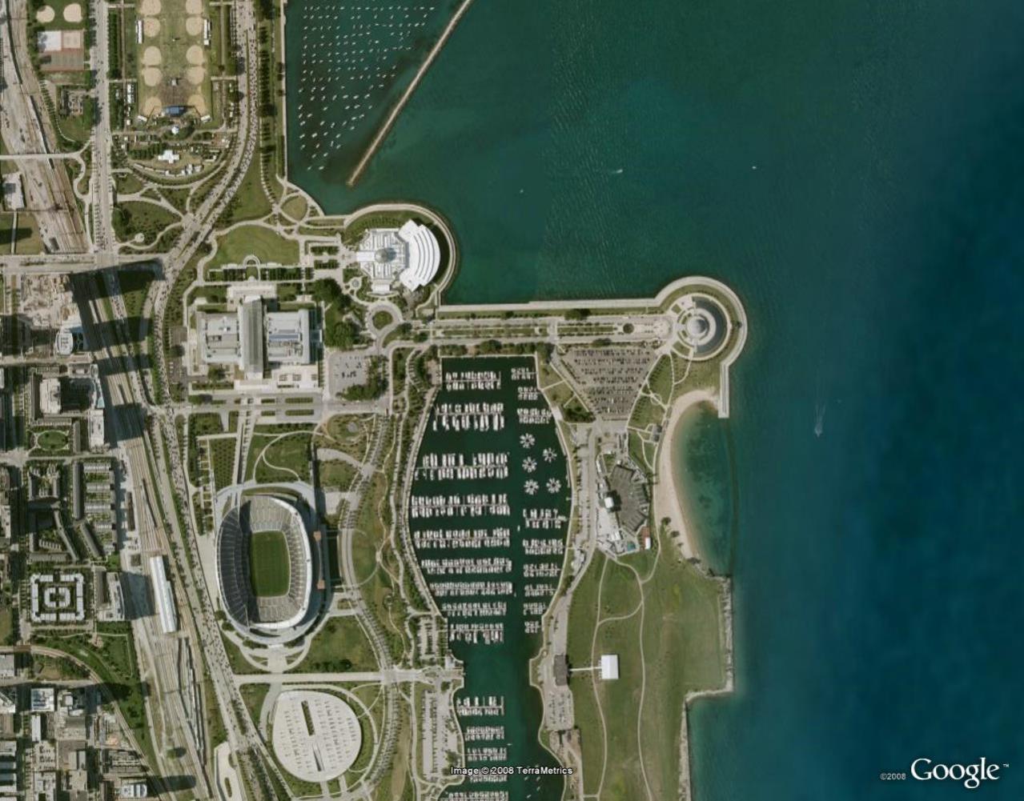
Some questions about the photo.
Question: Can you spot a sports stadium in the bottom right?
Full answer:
No, there is no sports stadium in the bottom right.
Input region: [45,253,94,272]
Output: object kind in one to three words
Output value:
bridge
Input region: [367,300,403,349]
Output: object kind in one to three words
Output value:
roundabout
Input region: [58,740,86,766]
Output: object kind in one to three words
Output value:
building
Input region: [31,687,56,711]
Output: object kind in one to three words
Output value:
building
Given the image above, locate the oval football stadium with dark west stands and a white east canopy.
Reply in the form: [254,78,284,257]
[215,493,311,631]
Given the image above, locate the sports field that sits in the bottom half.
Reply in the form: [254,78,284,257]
[251,532,289,598]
